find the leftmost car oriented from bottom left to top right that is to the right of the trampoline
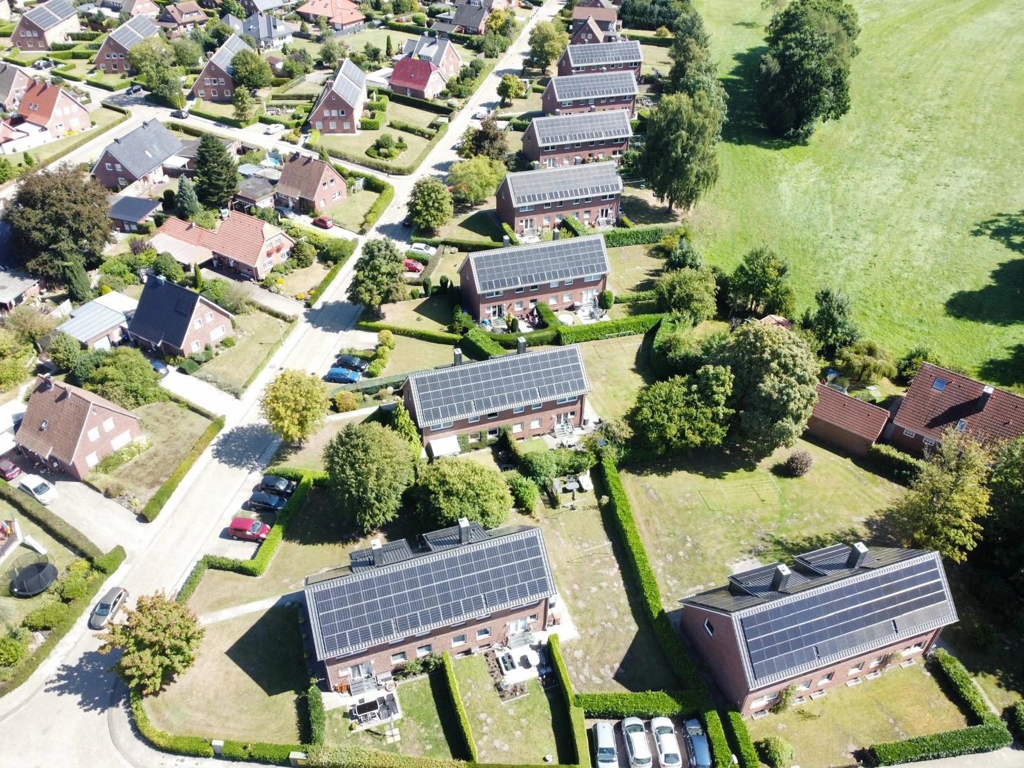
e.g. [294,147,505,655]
[89,585,129,627]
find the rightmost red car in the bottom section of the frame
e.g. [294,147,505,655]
[228,519,271,541]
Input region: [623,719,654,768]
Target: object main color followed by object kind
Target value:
white car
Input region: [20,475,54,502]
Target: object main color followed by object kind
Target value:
white car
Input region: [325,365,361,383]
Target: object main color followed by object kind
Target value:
blue car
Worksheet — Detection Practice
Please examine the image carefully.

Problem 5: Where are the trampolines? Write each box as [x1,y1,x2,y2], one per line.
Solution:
[0,553,57,603]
